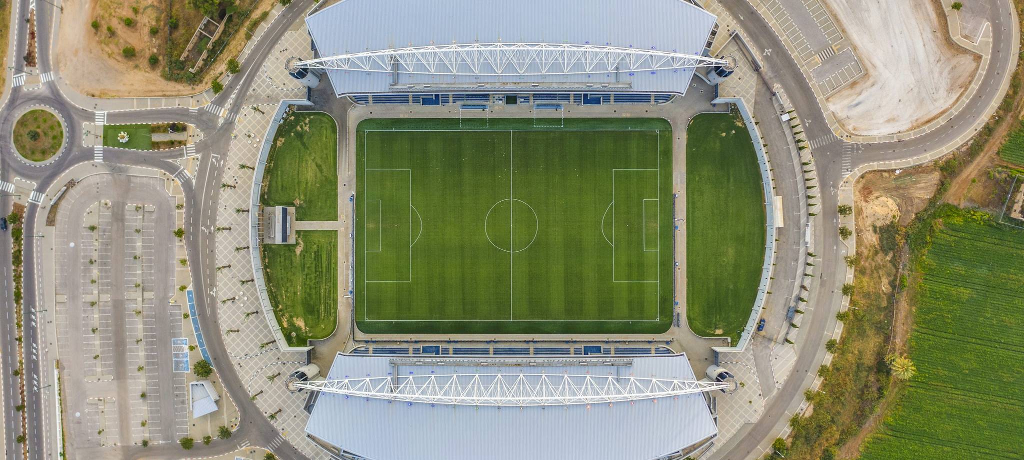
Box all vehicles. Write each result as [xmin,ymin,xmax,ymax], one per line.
[757,317,766,333]
[0,217,6,230]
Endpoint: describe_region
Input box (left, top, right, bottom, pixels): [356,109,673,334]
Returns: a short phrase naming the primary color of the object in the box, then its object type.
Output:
green soccer field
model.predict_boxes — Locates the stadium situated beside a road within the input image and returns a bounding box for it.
[249,0,784,460]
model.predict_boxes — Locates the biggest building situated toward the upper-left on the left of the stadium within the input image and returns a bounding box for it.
[180,14,231,75]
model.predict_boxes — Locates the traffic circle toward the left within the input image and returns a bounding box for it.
[7,104,69,166]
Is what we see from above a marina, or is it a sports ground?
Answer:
sports ground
